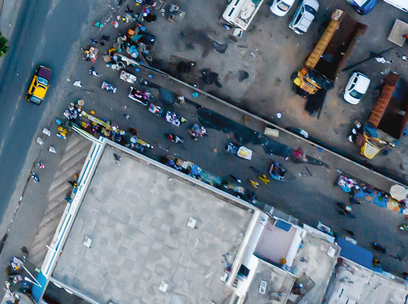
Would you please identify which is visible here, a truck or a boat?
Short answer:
truck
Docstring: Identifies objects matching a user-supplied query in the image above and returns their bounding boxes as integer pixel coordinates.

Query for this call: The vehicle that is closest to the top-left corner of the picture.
[25,64,51,104]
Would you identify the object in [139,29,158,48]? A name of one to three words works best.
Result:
umbrella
